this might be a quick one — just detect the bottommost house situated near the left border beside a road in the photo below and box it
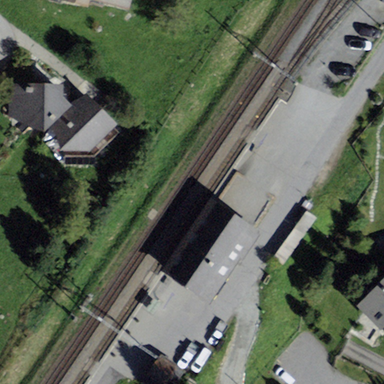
[9,82,120,165]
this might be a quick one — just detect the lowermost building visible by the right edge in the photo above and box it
[359,268,384,330]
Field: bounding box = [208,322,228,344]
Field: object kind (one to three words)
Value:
vehicle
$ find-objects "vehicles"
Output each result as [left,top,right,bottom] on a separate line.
[349,38,372,48]
[208,322,228,344]
[358,24,382,38]
[192,346,213,372]
[178,341,200,368]
[274,365,300,384]
[333,64,356,76]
